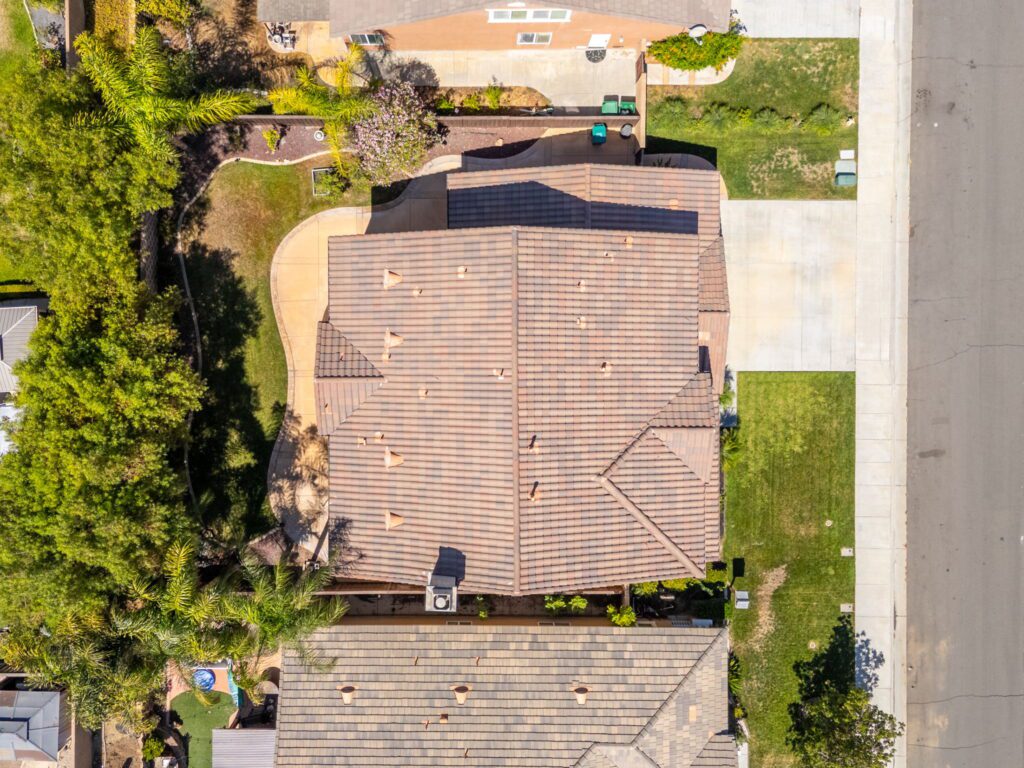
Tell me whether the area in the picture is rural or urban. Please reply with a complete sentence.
It looks urban.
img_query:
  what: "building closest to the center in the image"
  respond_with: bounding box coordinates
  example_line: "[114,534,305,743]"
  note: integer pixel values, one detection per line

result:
[311,160,732,611]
